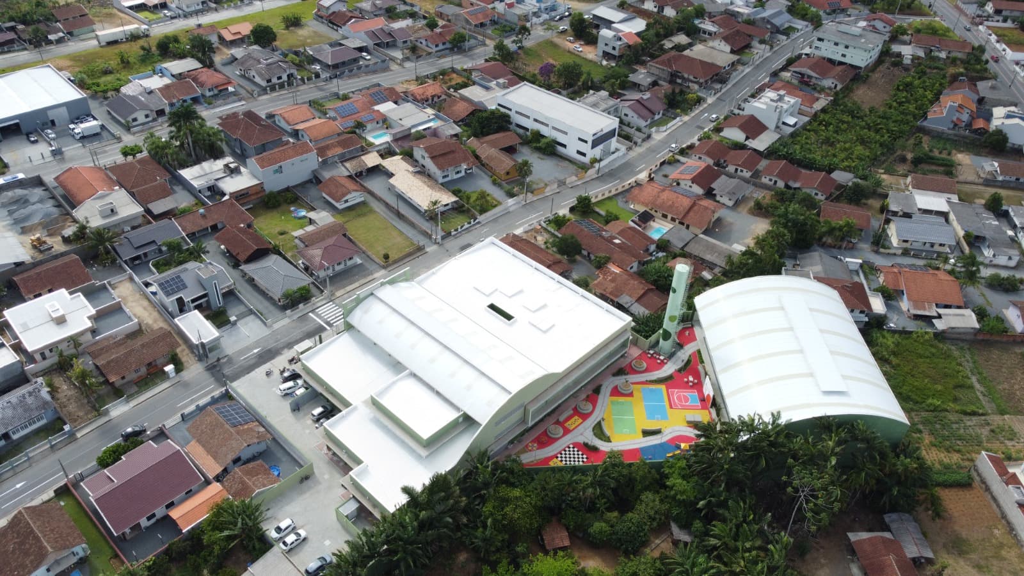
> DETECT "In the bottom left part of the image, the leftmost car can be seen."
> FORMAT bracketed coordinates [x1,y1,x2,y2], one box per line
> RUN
[119,421,148,439]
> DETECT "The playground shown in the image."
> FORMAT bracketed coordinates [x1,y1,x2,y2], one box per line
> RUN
[524,328,726,466]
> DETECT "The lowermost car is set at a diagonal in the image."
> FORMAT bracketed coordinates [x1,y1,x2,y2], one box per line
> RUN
[302,549,334,575]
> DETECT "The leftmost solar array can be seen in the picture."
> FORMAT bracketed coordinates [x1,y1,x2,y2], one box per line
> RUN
[157,274,187,294]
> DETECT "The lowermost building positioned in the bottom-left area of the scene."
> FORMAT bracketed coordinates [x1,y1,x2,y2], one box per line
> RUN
[241,547,304,576]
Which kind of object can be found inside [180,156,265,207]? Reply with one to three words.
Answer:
house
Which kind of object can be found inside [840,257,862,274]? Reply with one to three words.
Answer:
building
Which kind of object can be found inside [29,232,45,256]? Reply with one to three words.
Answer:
work vehicle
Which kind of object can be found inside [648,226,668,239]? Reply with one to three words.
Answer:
swimming pool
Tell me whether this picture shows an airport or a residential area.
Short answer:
residential area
